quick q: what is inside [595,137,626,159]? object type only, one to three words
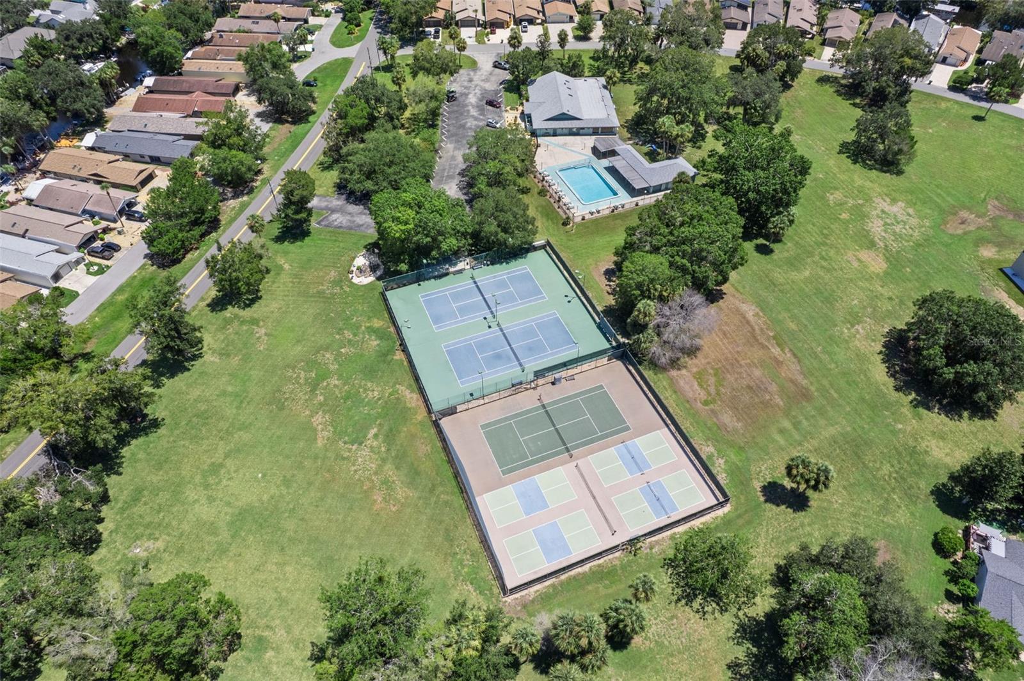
building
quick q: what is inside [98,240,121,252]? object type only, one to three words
vehicle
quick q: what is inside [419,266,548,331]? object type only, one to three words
tennis court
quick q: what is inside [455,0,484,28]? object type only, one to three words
house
